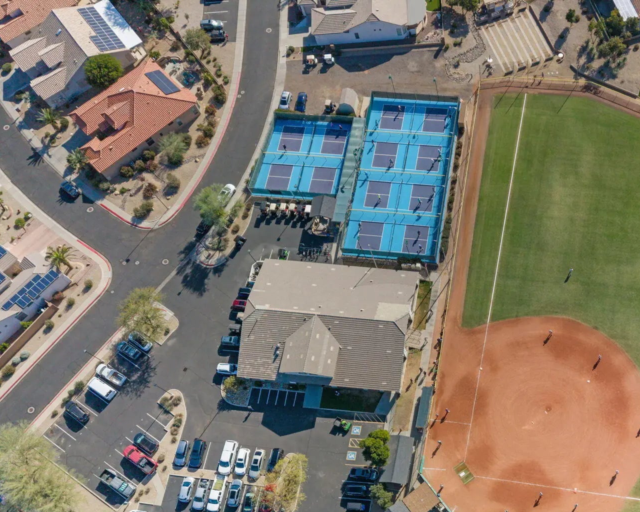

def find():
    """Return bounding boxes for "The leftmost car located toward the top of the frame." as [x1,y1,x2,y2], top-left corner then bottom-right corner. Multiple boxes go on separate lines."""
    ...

[60,180,82,199]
